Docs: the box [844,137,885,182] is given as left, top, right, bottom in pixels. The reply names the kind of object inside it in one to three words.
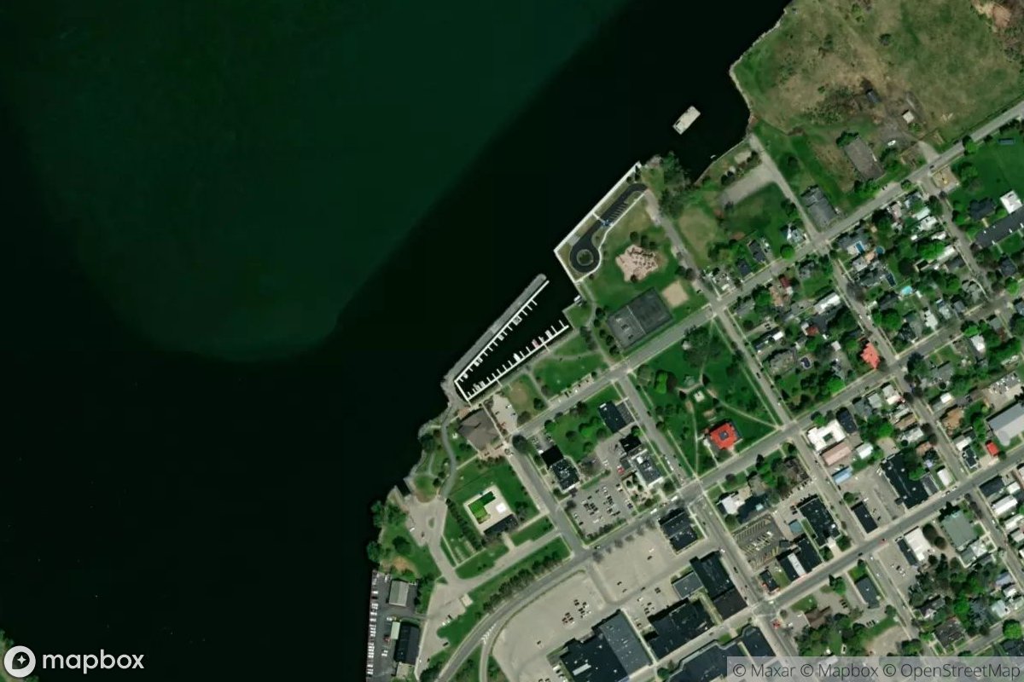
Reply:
building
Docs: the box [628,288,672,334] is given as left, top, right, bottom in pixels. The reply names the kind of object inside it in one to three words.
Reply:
tennis court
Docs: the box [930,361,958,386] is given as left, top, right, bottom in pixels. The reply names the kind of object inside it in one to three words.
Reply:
house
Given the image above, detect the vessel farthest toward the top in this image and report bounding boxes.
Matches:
[674,107,699,133]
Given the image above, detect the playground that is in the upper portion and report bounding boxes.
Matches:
[616,244,658,282]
